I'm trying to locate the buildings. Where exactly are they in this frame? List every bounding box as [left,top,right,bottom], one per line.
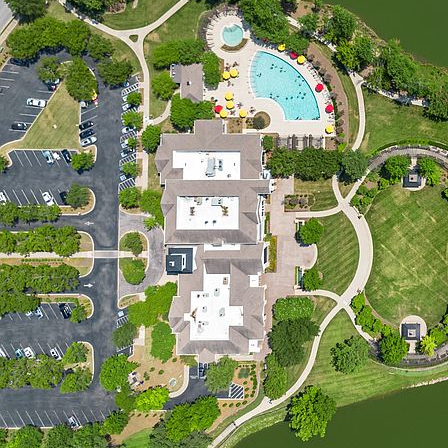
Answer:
[171,63,206,101]
[403,168,423,187]
[156,121,278,362]
[401,320,422,340]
